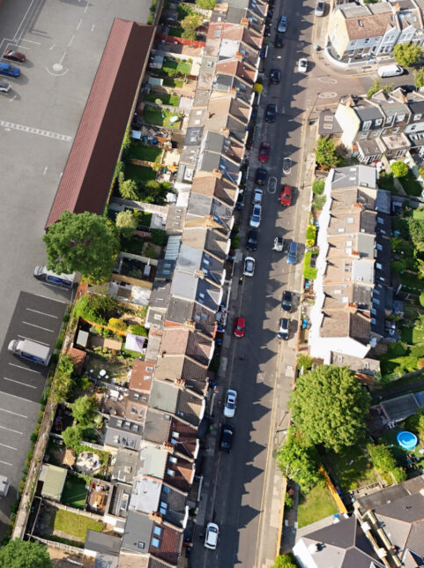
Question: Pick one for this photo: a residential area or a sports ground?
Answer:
residential area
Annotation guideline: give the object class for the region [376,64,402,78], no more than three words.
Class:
vehicle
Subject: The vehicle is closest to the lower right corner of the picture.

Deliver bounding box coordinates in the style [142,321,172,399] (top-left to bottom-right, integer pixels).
[204,522,220,551]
